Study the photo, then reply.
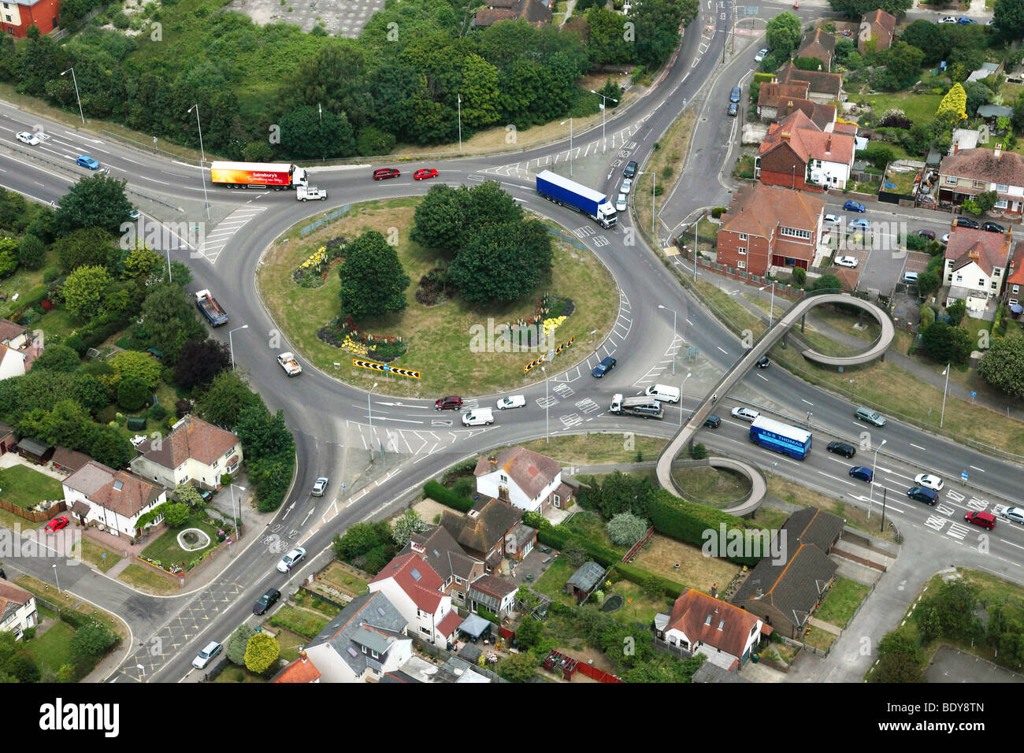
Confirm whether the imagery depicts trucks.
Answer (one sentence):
Yes, the frame does contain a truck.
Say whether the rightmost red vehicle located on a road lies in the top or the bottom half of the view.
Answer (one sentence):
Seen from above, the rightmost red vehicle located on a road lies in the bottom half of the view.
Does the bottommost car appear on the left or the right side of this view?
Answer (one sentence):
The bottommost car is on the left side of the image.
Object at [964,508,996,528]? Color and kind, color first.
red vehicle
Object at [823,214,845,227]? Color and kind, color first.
white vehicle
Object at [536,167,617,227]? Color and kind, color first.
white truck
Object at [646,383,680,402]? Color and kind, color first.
white vehicle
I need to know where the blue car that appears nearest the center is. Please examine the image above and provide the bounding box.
[592,354,618,377]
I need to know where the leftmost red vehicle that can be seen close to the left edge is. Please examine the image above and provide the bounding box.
[41,513,72,534]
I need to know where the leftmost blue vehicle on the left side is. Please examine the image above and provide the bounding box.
[76,154,99,168]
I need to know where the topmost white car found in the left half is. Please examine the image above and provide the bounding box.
[15,130,40,144]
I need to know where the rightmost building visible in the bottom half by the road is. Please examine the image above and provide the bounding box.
[726,494,848,645]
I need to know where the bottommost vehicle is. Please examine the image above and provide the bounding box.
[192,638,223,668]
